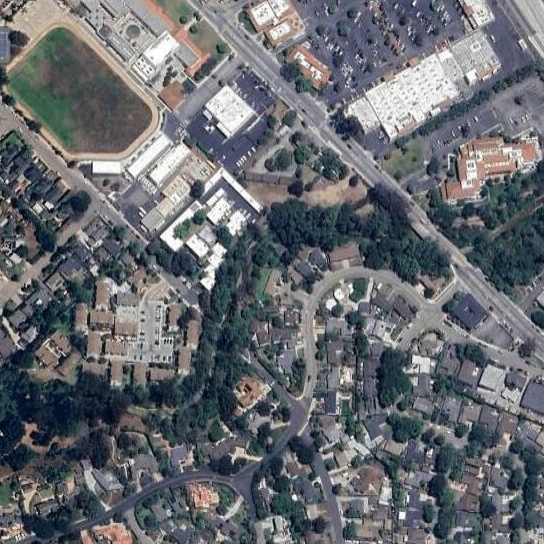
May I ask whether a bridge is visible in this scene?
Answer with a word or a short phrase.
Yes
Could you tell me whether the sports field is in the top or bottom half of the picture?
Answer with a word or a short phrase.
top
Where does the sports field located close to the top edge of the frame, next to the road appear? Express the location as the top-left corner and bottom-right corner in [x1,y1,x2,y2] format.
[1,21,158,160]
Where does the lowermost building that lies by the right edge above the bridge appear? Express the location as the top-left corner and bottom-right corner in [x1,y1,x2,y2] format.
[444,136,542,201]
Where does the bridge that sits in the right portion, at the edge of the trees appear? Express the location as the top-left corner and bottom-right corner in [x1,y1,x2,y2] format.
[404,200,463,259]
